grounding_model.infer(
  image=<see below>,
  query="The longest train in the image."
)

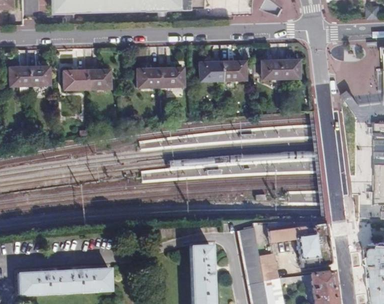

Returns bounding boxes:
[170,152,315,167]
